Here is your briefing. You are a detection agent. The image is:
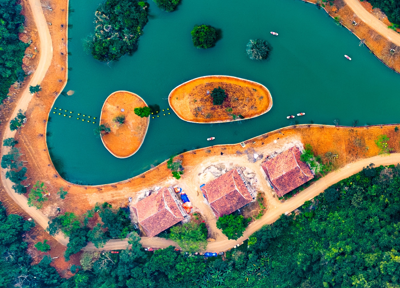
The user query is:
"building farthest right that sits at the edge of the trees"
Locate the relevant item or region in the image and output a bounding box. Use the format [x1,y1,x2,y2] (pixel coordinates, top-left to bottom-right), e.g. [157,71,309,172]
[261,146,314,198]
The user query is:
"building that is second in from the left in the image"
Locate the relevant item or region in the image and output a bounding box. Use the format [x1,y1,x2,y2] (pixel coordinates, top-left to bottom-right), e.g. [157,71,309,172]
[201,167,259,220]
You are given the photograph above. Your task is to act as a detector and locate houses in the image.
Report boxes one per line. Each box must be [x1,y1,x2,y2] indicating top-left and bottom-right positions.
[131,185,189,237]
[201,167,259,220]
[261,146,314,198]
